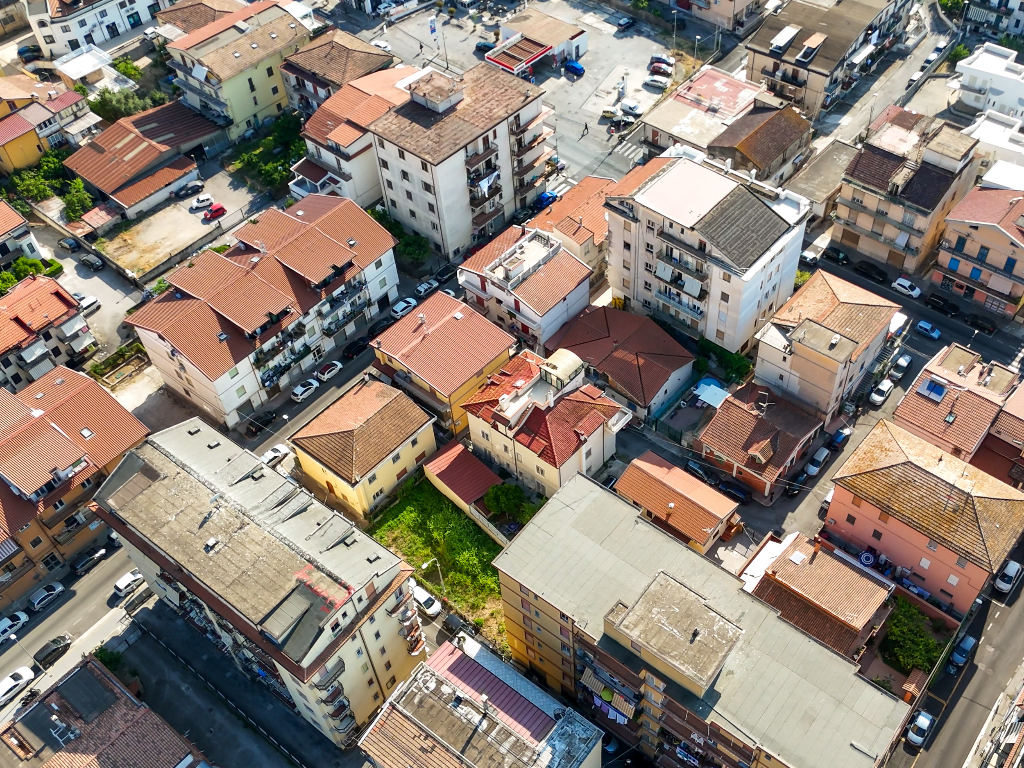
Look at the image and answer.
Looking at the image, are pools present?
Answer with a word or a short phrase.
Yes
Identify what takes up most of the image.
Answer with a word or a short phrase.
buildings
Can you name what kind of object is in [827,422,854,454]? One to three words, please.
car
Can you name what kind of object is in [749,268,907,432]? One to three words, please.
building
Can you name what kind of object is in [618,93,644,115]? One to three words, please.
vehicle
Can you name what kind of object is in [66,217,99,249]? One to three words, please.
shed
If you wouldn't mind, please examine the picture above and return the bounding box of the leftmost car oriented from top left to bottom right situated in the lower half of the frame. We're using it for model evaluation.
[274,464,306,490]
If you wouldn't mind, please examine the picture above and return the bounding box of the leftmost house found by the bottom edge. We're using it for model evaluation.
[0,643,210,768]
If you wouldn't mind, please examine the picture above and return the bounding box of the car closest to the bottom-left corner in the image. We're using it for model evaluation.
[0,665,37,706]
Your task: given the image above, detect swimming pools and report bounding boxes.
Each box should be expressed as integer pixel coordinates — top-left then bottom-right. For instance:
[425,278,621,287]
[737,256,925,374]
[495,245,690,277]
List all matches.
[689,370,729,399]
